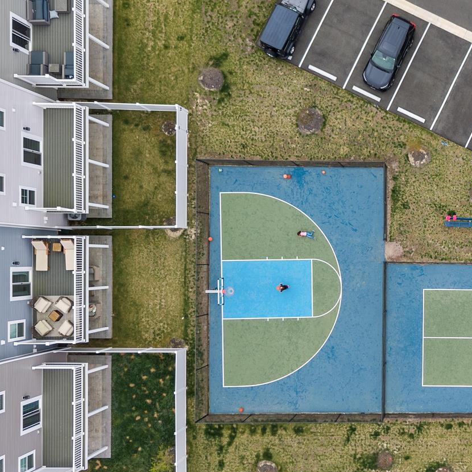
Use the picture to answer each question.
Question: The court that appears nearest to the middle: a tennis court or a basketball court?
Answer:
basketball court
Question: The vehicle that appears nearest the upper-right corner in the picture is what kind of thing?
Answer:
automobile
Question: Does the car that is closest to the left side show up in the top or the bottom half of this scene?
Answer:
top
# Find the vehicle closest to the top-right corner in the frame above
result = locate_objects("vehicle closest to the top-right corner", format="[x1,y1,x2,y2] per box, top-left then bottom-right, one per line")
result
[364,13,417,91]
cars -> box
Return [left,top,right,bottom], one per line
[364,13,417,91]
[257,0,315,59]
